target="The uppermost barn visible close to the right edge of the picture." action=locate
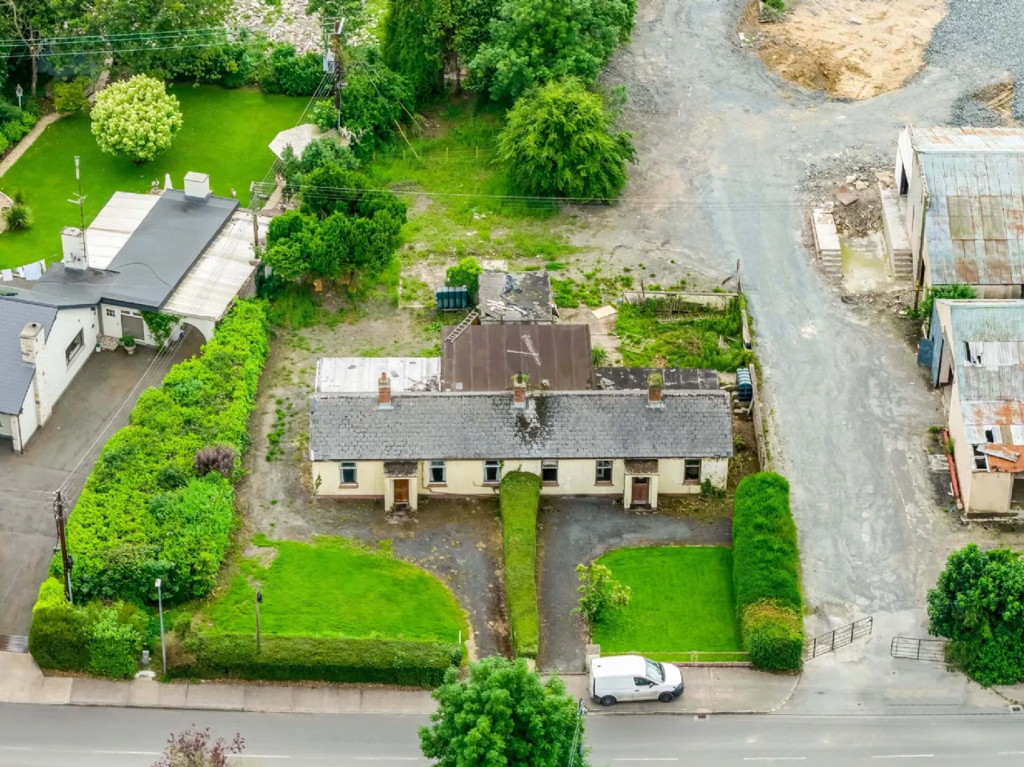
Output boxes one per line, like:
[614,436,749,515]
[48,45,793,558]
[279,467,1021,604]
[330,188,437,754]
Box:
[906,125,1024,315]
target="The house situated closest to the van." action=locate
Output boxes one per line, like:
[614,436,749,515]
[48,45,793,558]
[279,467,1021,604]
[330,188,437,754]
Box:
[307,322,733,512]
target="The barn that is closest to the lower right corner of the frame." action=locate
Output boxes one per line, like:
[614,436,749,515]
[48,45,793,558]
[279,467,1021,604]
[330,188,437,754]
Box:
[929,296,1024,518]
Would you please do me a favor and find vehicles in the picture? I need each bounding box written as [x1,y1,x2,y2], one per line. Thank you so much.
[584,653,685,706]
